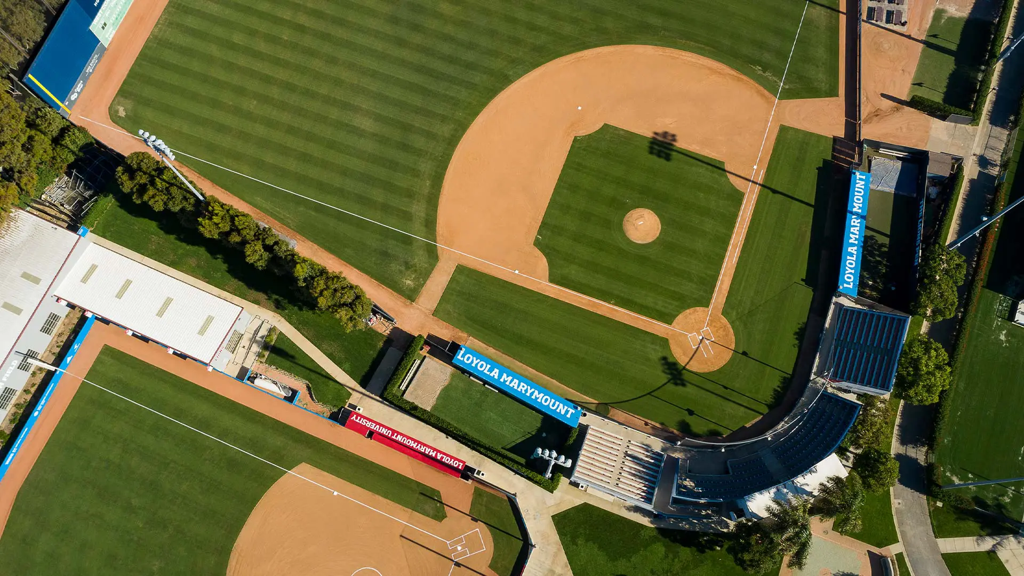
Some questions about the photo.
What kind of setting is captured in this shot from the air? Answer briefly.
sports ground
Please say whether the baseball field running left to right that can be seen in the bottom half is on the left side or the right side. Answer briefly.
left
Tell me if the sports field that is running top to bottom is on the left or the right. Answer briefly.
right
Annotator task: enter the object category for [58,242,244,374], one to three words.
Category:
building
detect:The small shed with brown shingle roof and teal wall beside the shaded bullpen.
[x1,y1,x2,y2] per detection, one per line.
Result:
[920,152,952,183]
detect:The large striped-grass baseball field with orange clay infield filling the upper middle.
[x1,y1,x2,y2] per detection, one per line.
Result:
[67,0,860,447]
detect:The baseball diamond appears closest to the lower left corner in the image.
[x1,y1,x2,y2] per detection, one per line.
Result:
[0,322,533,576]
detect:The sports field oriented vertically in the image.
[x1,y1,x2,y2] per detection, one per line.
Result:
[940,126,1024,522]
